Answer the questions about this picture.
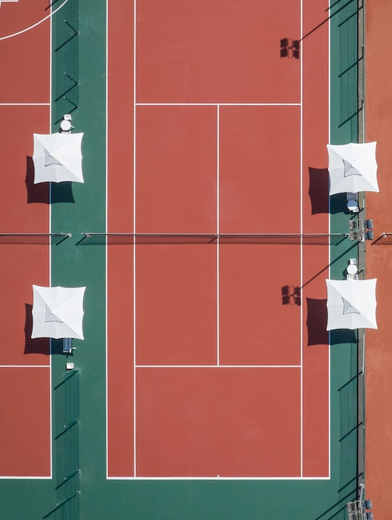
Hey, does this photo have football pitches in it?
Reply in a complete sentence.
No, the scene contains no football pitch.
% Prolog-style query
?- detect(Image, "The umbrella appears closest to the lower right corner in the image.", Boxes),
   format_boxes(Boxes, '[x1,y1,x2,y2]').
[326,279,377,331]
